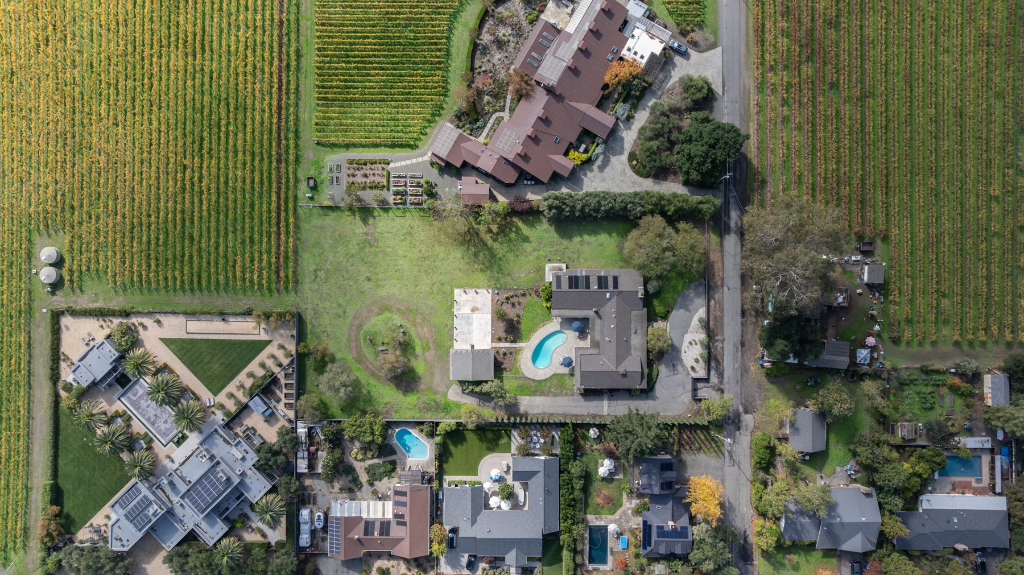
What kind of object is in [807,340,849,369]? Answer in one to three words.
barn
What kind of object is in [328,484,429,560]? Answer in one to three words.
house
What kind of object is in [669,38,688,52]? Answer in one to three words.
car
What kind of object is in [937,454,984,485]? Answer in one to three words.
swimming pool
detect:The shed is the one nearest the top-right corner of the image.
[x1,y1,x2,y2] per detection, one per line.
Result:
[862,265,884,283]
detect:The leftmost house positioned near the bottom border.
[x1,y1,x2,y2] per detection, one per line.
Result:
[109,423,276,551]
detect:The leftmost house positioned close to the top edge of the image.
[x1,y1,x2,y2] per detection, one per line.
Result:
[487,0,629,183]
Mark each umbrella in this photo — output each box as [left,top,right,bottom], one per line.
[571,321,582,332]
[489,496,500,506]
[588,427,599,437]
[598,466,608,476]
[500,499,511,510]
[490,467,500,477]
[864,336,874,346]
[608,522,619,533]
[603,457,614,469]
[562,356,572,367]
[483,481,493,491]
